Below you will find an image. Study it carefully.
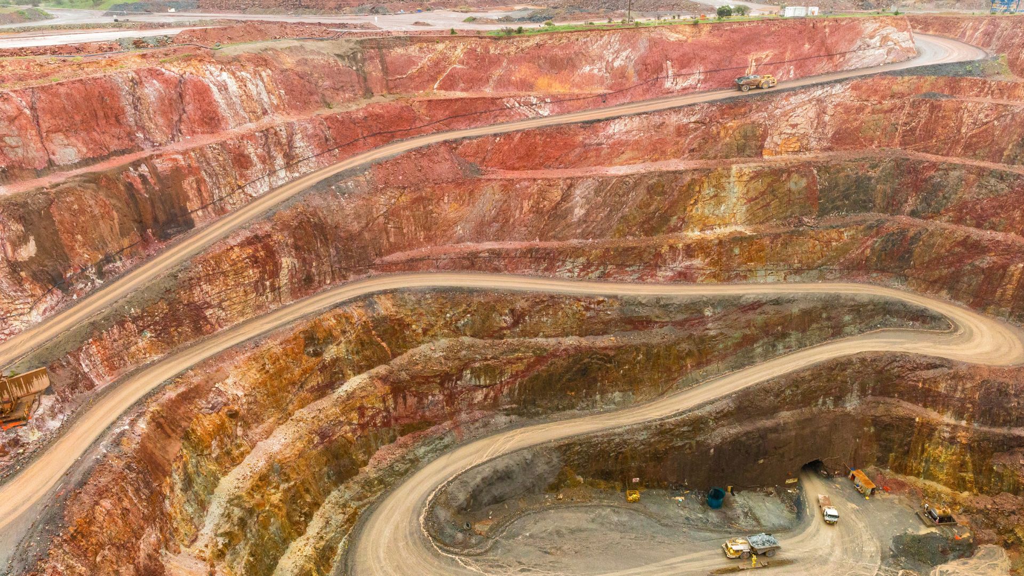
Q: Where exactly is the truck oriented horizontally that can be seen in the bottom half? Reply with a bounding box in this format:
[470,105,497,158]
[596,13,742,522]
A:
[724,534,788,561]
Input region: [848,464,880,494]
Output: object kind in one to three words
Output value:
shed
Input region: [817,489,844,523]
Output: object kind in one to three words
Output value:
truck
